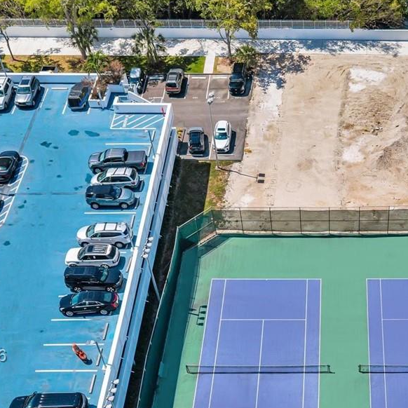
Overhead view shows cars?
Yes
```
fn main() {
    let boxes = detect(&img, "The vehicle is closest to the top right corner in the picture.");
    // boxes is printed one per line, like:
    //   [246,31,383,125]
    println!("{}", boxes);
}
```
[228,67,247,95]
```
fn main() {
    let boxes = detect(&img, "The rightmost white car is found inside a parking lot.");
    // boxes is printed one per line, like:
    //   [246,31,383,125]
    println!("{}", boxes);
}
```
[213,123,233,152]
